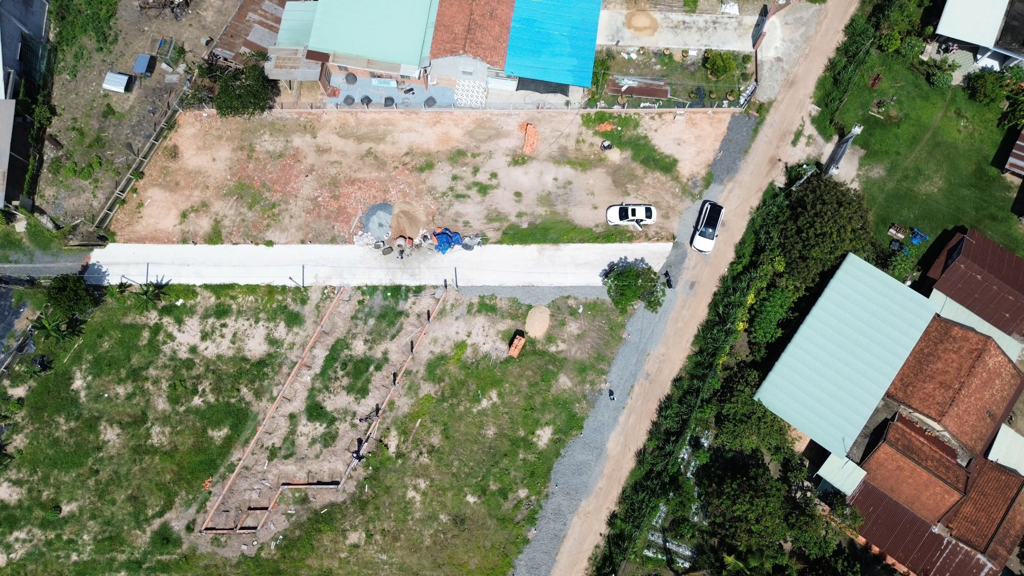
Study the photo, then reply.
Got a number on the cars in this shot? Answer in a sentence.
My tally gives 2 cars in this view.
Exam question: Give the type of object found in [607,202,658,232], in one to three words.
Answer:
car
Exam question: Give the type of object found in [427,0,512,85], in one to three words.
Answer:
house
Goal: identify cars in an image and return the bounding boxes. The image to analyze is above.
[607,202,658,232]
[693,201,721,252]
